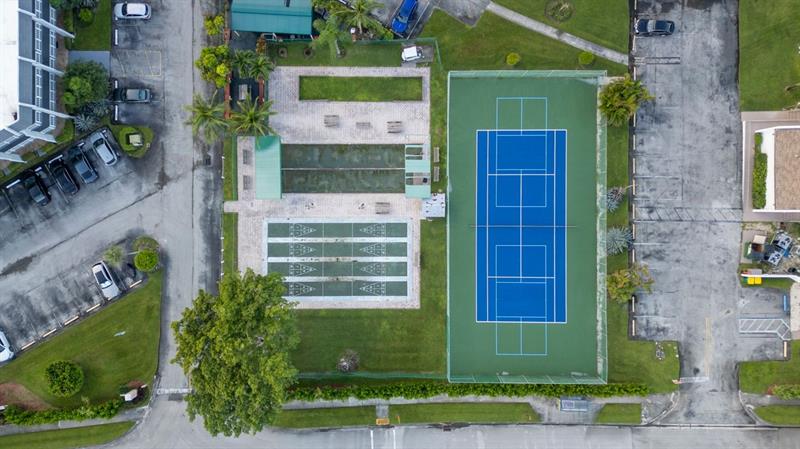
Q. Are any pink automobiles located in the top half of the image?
No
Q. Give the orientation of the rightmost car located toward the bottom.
on a diagonal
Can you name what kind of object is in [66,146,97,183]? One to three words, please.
car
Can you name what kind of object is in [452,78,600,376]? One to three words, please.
tennis court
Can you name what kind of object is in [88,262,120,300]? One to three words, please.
car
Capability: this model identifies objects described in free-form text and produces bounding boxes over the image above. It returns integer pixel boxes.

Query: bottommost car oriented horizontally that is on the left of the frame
[109,84,149,102]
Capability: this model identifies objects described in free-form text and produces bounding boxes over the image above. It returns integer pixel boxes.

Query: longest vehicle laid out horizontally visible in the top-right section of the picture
[637,15,677,35]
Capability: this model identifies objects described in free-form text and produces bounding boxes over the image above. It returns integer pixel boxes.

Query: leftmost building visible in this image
[0,0,73,166]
